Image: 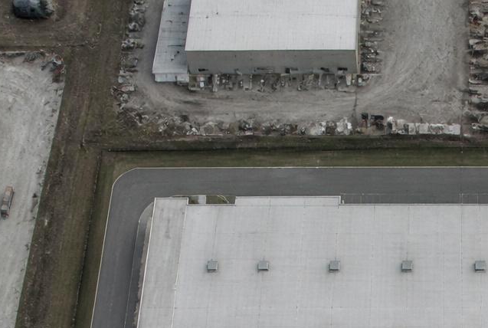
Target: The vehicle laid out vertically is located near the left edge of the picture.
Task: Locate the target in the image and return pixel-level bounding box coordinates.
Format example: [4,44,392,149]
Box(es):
[1,186,14,218]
